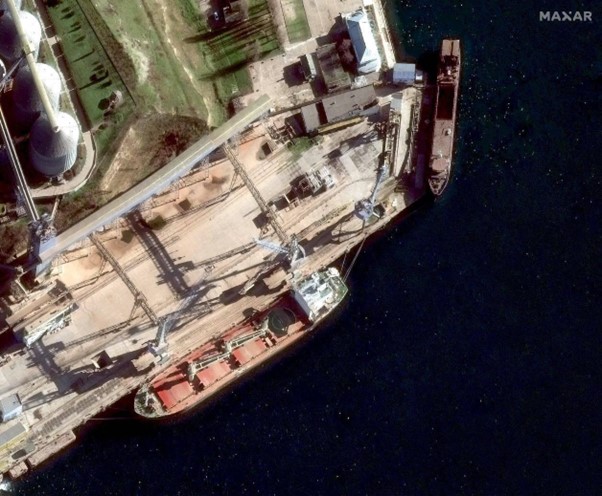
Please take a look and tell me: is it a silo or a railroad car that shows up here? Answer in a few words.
silo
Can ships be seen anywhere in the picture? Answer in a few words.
Yes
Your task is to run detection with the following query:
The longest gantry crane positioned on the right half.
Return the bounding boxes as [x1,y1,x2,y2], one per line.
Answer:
[356,159,387,222]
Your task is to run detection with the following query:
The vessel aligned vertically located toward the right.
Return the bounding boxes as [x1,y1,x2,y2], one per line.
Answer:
[429,41,461,197]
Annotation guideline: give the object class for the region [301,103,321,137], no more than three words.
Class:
building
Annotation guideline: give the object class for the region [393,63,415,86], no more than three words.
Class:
shed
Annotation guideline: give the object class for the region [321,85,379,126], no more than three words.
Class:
building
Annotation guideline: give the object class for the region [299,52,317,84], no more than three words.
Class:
house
